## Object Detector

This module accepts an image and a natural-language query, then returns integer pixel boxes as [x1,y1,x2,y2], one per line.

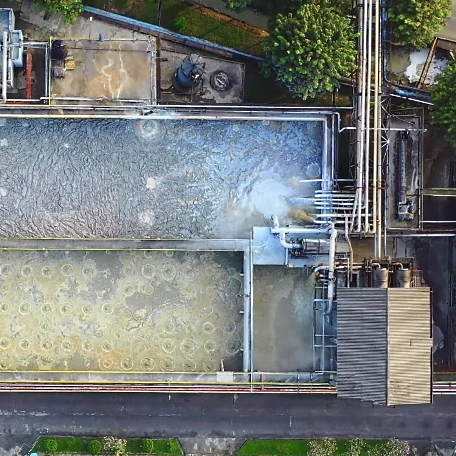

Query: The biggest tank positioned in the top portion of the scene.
[155,60,205,101]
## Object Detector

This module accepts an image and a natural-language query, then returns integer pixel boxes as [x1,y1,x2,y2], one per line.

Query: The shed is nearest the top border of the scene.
[333,288,433,409]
